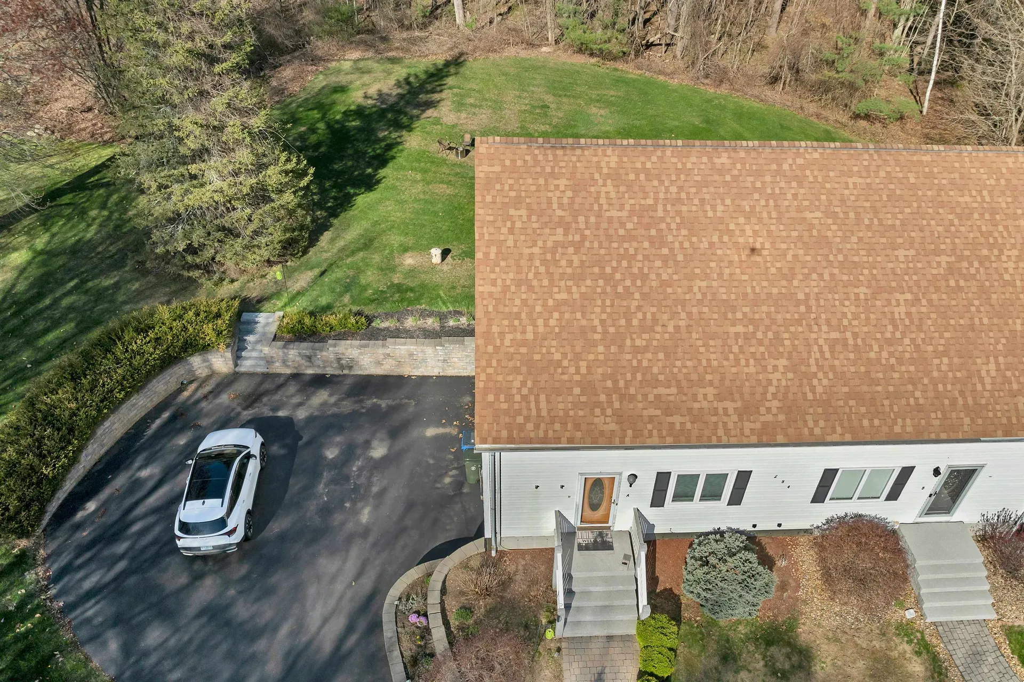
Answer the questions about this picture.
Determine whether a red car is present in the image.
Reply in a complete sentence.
No, the photo shows no red car.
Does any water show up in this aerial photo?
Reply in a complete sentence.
No, water can't be seen anywhere here.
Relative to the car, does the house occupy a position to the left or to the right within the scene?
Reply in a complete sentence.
You can see the house positioned to the right of the car.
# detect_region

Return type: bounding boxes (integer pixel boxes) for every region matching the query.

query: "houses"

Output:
[471,137,1024,553]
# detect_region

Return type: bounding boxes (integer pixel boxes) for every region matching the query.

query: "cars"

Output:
[173,430,266,554]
